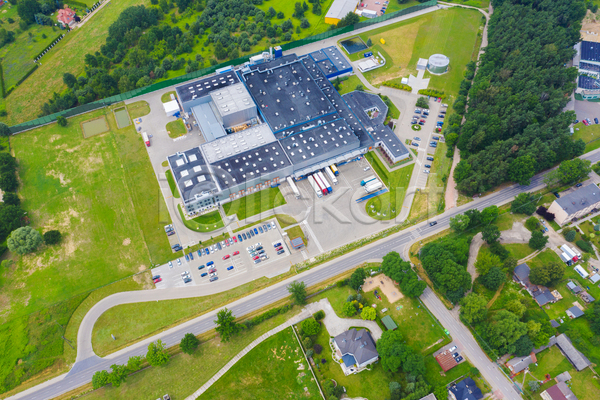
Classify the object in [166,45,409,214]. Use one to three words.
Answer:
building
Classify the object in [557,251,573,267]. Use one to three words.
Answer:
vehicle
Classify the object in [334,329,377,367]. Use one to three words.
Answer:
house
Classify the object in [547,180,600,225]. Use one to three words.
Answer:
building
